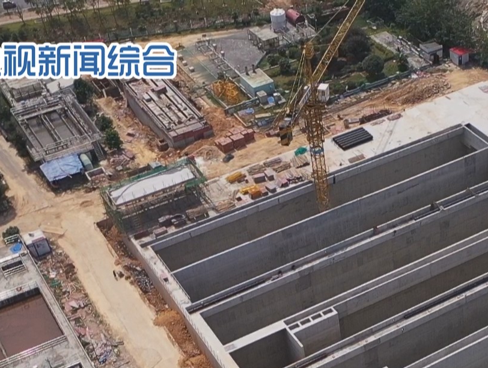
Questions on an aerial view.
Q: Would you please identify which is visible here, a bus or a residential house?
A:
residential house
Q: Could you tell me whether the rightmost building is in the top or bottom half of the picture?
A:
top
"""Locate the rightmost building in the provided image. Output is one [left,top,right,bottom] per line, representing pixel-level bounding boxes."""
[450,44,471,71]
